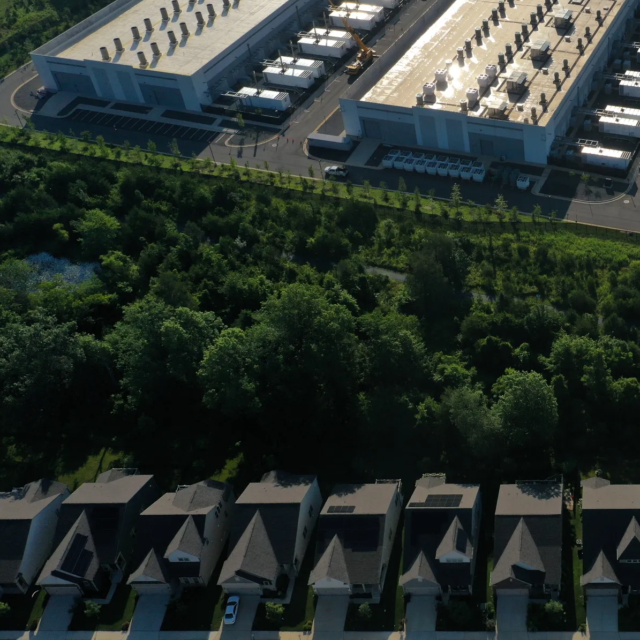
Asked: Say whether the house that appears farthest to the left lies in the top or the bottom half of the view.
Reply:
bottom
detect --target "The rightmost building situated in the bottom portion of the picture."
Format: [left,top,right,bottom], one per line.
[577,477,640,597]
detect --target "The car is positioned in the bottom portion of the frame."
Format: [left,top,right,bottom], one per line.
[221,597,242,624]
